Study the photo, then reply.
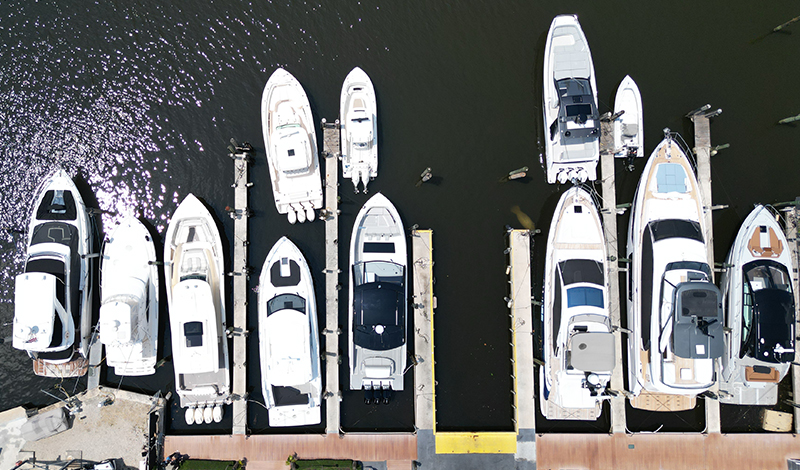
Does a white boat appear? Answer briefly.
Yes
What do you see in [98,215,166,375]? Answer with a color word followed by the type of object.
white boat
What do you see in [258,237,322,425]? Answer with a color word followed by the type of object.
white boat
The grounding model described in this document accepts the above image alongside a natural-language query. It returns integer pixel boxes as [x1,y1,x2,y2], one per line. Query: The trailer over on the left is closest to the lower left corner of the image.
[11,450,101,470]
